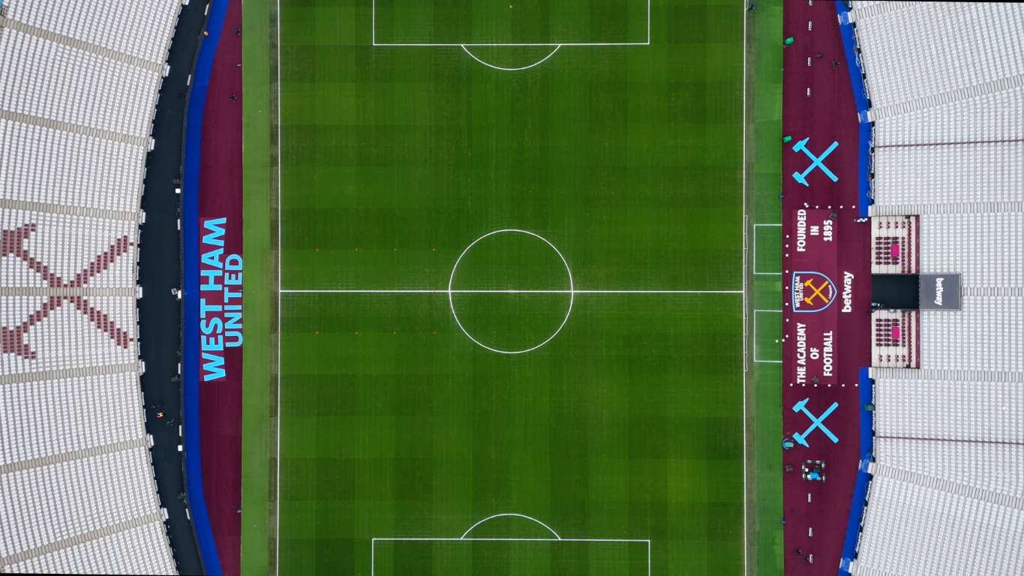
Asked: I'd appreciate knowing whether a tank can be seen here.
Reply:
No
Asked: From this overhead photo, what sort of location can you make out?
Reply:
sports ground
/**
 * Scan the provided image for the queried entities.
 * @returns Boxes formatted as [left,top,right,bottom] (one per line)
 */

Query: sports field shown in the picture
[277,0,783,576]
